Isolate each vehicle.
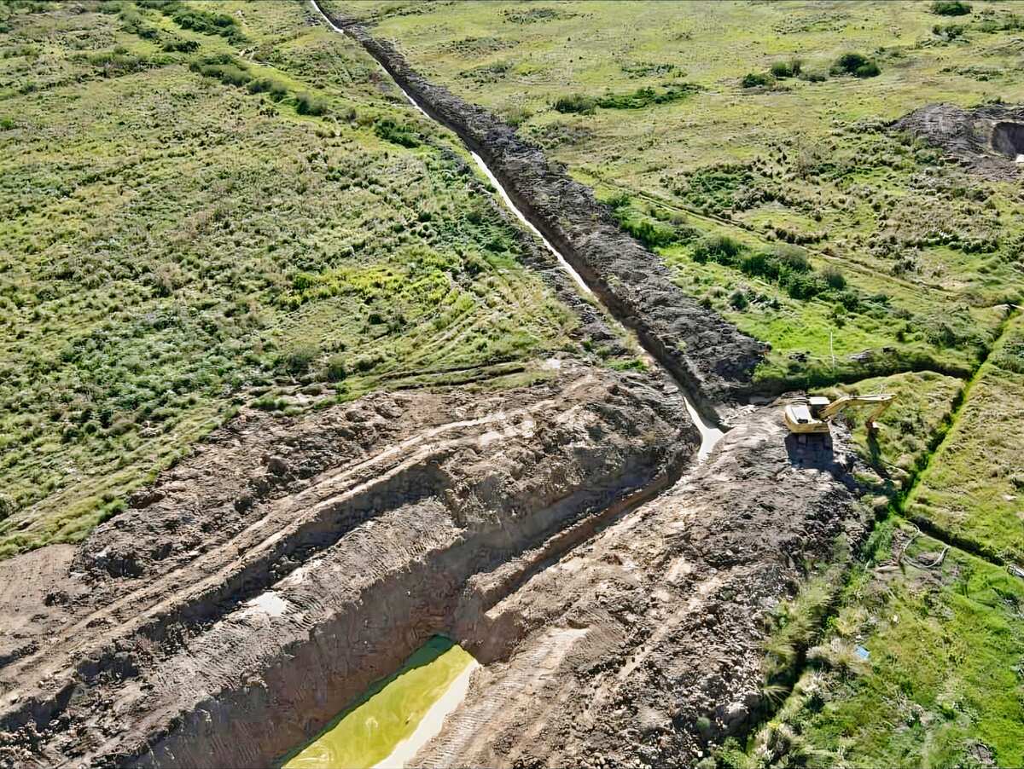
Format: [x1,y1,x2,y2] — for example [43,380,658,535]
[784,400,893,442]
